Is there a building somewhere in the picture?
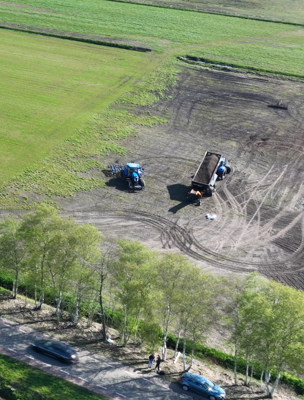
No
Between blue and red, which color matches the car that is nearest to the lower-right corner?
blue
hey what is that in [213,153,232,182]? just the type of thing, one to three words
work vehicle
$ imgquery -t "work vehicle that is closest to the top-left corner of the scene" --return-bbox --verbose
[121,160,150,188]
